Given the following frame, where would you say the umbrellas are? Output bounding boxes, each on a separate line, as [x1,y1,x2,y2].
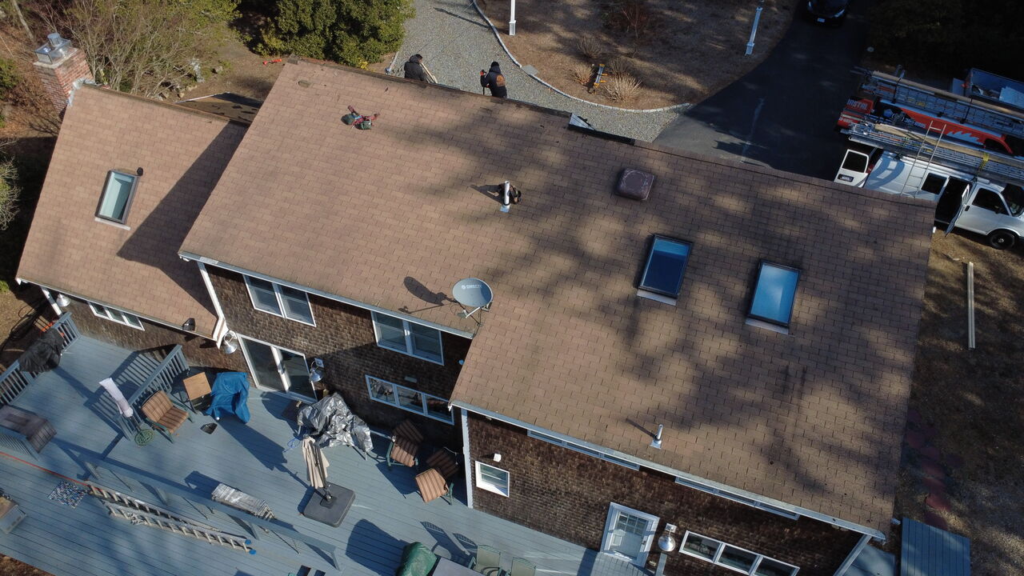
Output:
[104,378,156,449]
[291,433,348,525]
